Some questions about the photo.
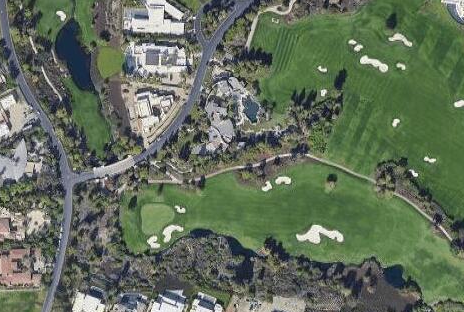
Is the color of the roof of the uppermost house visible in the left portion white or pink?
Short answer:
white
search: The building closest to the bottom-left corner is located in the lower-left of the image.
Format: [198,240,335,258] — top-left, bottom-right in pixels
[0,246,42,290]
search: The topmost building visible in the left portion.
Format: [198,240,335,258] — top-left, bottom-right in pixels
[130,0,185,35]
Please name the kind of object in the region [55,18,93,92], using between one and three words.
pond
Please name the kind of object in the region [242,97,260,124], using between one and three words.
swimming pool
